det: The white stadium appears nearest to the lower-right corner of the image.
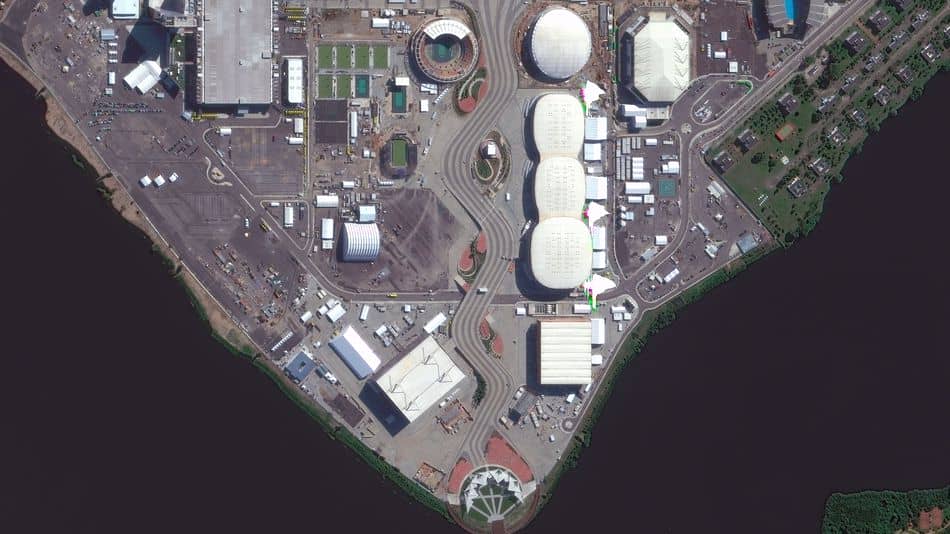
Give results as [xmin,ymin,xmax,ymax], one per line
[535,319,592,386]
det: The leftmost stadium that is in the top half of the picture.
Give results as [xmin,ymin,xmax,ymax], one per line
[379,134,417,177]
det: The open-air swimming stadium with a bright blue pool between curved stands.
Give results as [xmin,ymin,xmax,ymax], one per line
[764,0,828,40]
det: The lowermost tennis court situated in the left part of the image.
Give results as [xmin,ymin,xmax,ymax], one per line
[315,122,347,143]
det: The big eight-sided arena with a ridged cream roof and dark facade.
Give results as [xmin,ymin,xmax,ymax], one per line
[621,6,697,106]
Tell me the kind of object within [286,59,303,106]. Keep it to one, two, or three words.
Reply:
tent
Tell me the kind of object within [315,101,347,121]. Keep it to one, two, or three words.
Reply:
tennis court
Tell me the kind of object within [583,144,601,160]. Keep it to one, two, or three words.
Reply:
building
